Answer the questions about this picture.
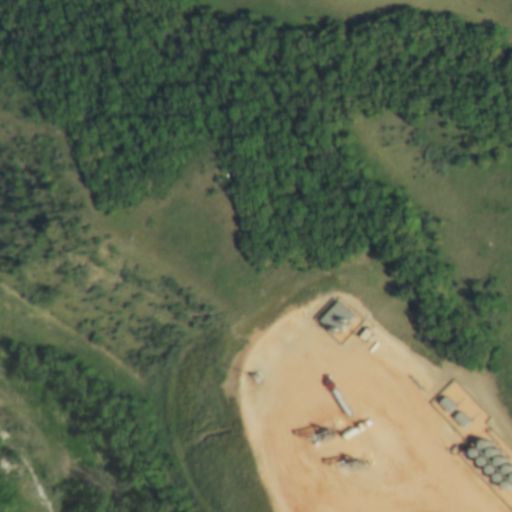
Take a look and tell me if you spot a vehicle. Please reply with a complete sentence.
Yes, the photo shows a vehicle.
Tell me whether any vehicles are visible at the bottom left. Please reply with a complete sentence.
No, looking at the bottom left, there is no vehicle.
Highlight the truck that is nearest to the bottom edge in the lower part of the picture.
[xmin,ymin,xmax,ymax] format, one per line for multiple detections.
[342,418,375,440]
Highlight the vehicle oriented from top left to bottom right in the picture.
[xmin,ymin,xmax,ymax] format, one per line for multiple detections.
[322,372,354,418]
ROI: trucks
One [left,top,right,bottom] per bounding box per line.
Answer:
[342,418,375,440]
[322,372,354,418]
